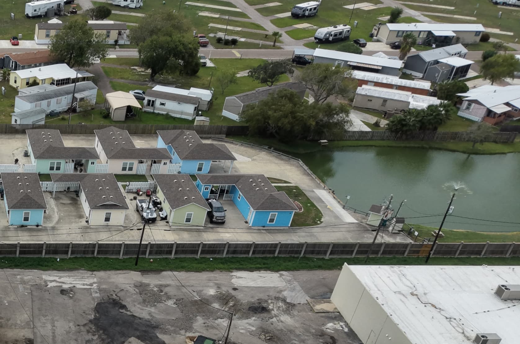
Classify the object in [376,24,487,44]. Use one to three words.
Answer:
house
